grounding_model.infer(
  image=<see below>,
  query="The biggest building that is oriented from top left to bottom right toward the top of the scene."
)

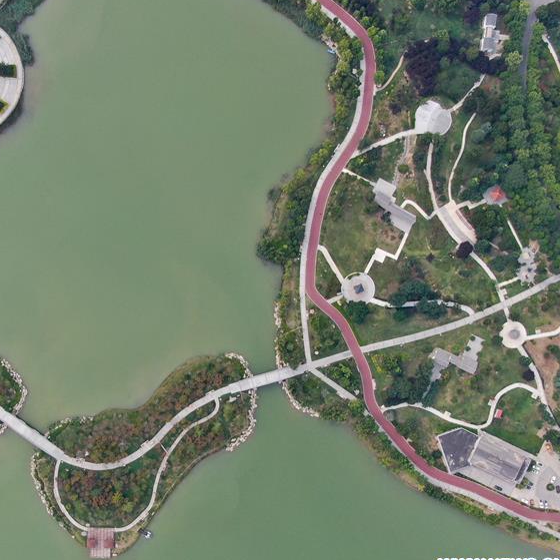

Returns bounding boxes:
[373,177,415,233]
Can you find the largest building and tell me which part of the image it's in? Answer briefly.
bottom right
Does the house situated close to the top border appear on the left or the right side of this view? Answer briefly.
right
